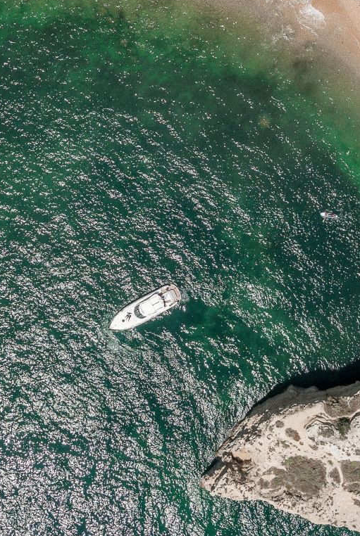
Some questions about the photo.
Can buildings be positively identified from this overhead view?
No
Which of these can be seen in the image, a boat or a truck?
boat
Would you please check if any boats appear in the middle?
Yes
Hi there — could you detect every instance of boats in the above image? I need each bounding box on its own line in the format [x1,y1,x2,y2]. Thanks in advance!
[319,211,338,222]
[109,284,182,329]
